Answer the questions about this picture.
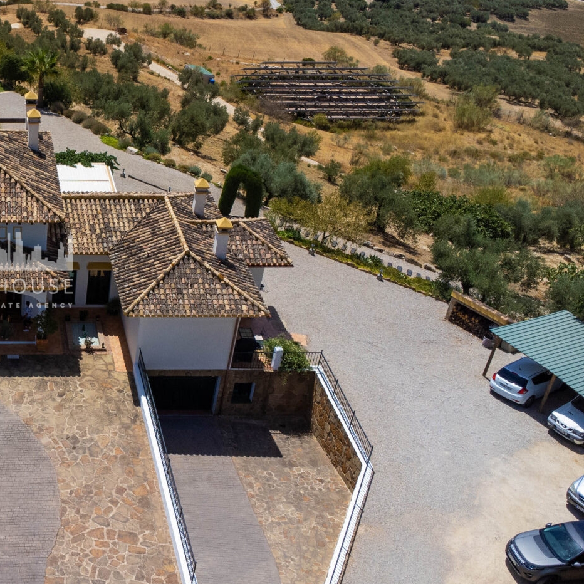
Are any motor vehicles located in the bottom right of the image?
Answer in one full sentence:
Yes, looking in the bottom right of the image, one can make out a motor vehicle.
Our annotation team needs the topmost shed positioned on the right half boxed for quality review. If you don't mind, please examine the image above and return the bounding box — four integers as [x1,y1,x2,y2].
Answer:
[442,290,521,354]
